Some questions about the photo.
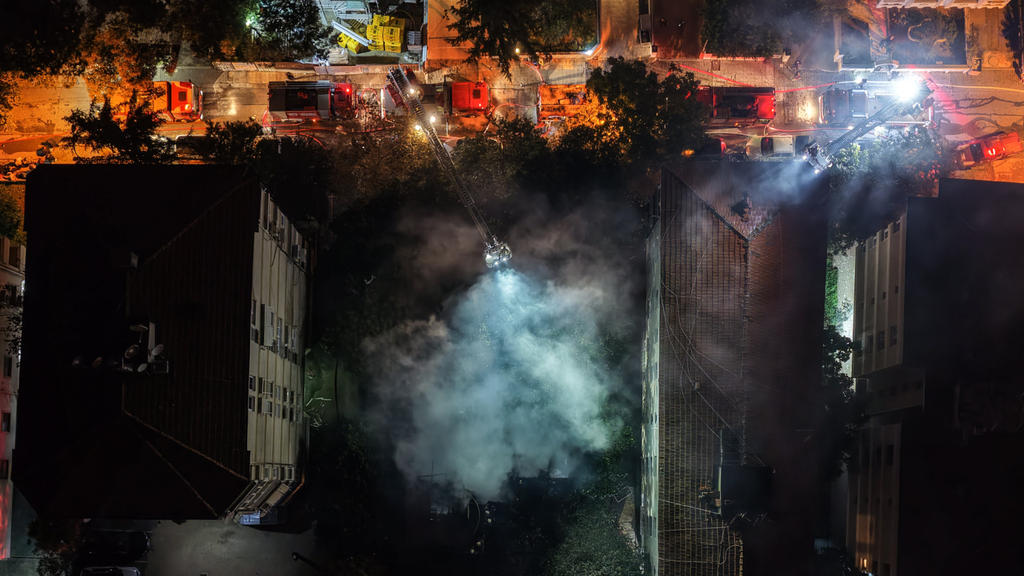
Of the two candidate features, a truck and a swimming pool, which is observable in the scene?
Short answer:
truck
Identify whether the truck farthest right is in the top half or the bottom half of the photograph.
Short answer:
top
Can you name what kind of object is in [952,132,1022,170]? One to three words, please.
truck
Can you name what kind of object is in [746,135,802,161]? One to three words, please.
car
